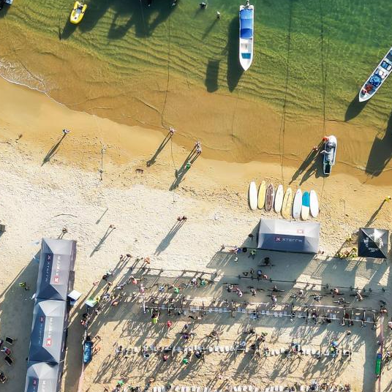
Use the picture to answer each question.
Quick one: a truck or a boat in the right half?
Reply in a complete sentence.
The feature located in the right half is a boat.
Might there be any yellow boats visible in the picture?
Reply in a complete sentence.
Yes, a yellow boat is visible in the scene.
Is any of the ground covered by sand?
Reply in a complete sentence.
Yes, there's sand in this view.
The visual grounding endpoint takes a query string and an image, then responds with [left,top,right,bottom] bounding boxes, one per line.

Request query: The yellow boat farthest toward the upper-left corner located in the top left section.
[70,0,87,25]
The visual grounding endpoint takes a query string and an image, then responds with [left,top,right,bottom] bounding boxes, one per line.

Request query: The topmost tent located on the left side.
[35,237,80,301]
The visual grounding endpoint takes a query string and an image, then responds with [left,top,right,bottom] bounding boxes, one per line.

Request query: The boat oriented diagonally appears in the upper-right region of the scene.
[360,47,392,102]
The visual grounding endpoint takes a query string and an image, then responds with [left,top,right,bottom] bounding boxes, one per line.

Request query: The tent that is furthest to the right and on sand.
[355,225,390,258]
